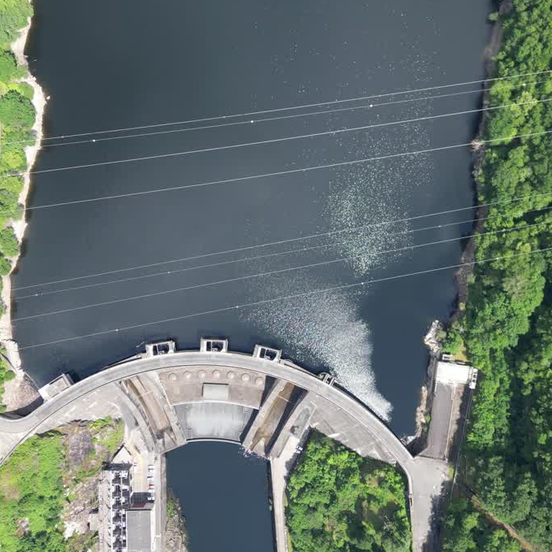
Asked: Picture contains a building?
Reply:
Yes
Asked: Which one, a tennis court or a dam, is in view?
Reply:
dam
